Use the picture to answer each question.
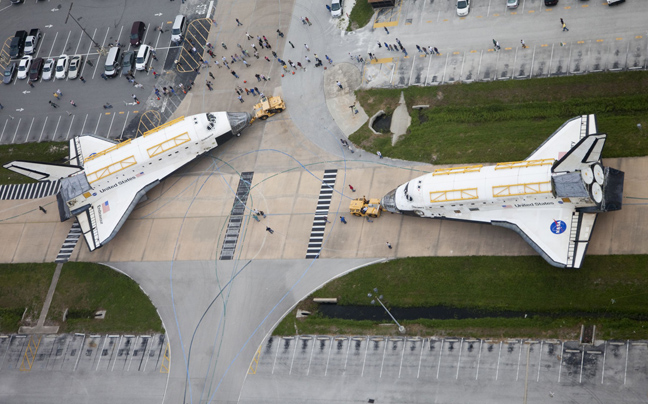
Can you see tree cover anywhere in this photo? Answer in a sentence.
No, the picture contains no tree cover.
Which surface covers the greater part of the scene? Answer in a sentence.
The scene is dominated by paved ground.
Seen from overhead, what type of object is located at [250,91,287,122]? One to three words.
work vehicle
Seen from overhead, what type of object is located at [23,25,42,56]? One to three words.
vehicle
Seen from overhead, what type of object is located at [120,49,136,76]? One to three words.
car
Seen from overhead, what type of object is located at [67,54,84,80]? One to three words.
car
